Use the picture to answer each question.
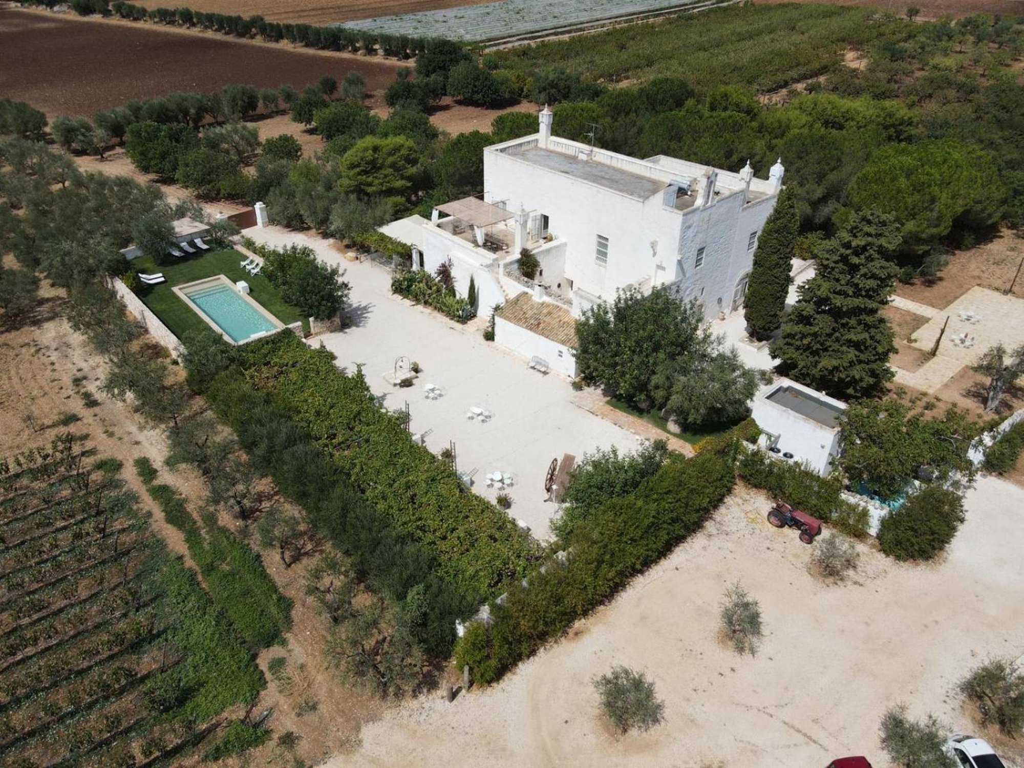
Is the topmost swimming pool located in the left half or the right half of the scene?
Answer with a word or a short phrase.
left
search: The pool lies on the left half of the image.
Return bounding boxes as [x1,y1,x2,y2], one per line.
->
[172,274,287,341]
